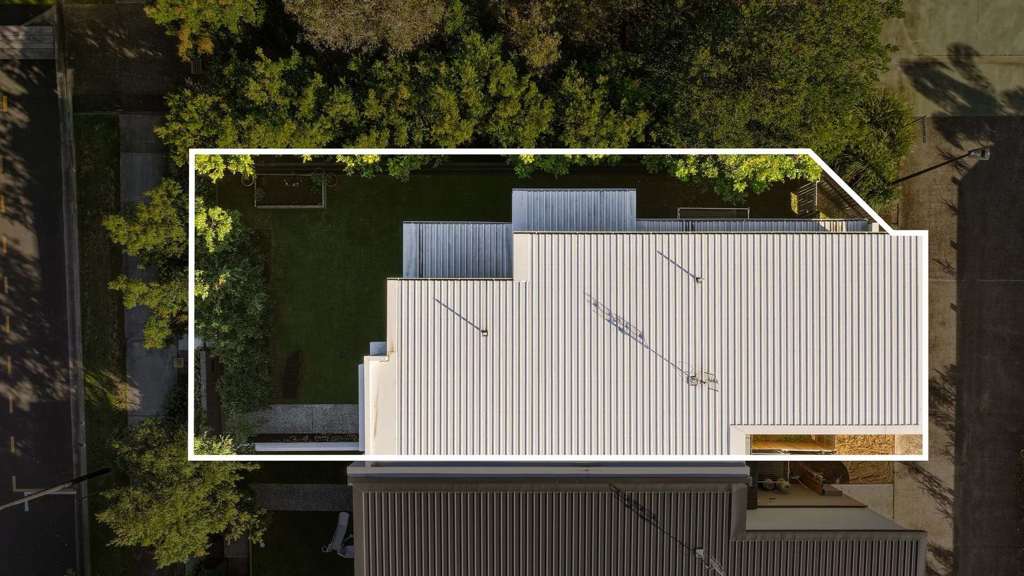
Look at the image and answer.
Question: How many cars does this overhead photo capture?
0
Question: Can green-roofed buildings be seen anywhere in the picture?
No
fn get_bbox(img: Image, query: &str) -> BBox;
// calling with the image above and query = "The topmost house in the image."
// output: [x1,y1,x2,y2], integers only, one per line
[348,189,922,474]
